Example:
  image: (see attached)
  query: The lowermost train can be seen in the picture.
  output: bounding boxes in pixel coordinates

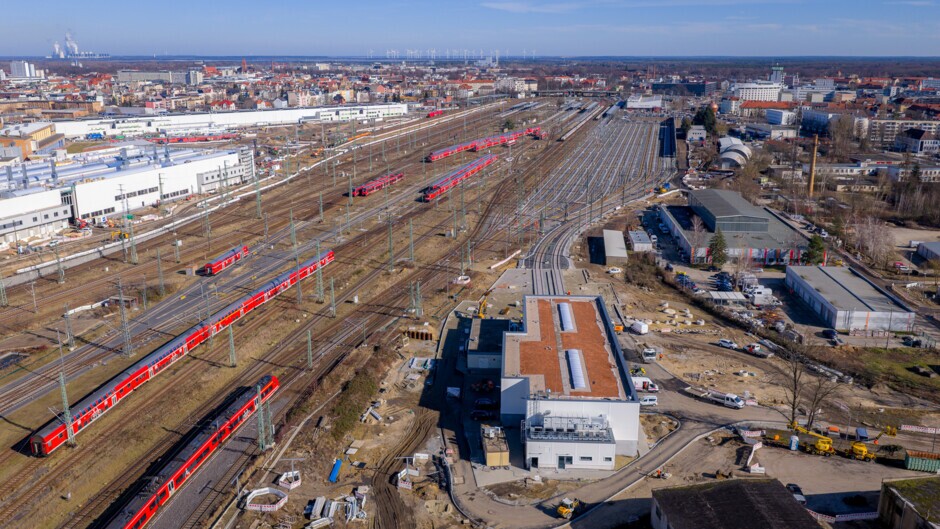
[85,373,285,529]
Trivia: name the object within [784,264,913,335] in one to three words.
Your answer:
building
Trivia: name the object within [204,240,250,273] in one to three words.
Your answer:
train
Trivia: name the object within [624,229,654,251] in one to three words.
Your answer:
building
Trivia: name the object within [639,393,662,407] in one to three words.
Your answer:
vehicle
